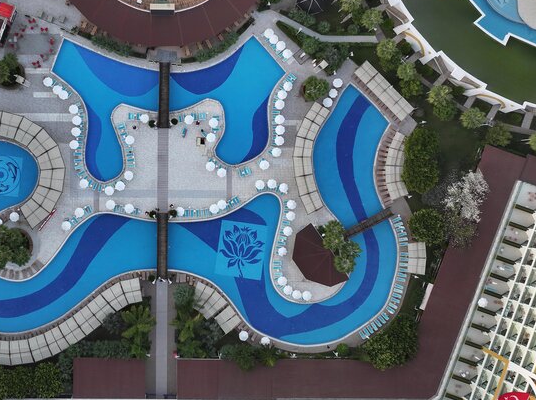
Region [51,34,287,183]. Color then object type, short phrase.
blue swimming pool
